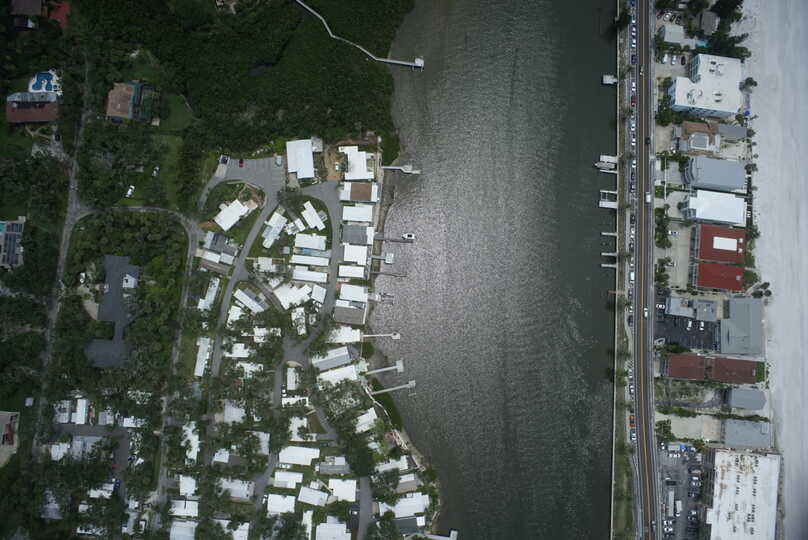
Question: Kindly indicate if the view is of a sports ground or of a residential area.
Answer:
residential area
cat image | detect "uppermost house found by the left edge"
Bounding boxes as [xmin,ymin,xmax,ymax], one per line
[12,0,51,29]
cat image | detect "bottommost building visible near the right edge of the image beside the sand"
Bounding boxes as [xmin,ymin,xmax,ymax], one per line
[694,444,780,540]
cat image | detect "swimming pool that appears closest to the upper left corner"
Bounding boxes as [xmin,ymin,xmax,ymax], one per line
[28,71,62,94]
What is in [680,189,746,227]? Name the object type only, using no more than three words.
building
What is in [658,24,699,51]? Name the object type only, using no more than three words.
building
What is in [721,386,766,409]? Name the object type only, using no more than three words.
house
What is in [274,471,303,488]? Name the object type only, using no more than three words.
house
